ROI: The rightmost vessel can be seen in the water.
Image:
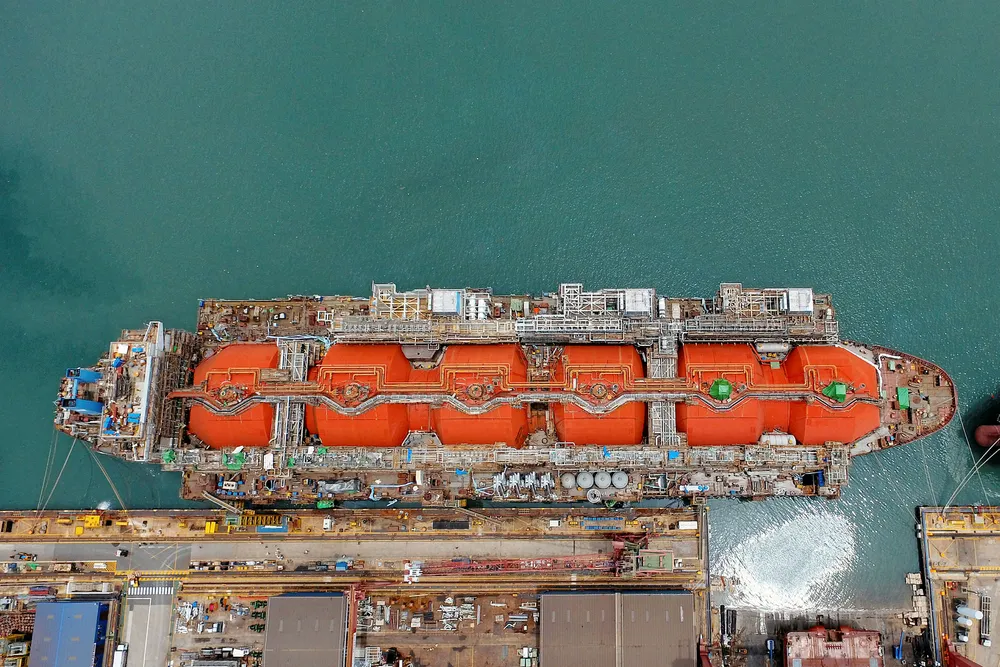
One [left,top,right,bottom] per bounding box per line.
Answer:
[974,425,1000,448]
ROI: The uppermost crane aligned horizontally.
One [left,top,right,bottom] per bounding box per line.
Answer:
[403,534,674,584]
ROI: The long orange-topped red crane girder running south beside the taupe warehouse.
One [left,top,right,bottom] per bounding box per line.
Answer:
[341,579,404,667]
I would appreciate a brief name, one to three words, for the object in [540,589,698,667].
building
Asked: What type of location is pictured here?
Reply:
port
